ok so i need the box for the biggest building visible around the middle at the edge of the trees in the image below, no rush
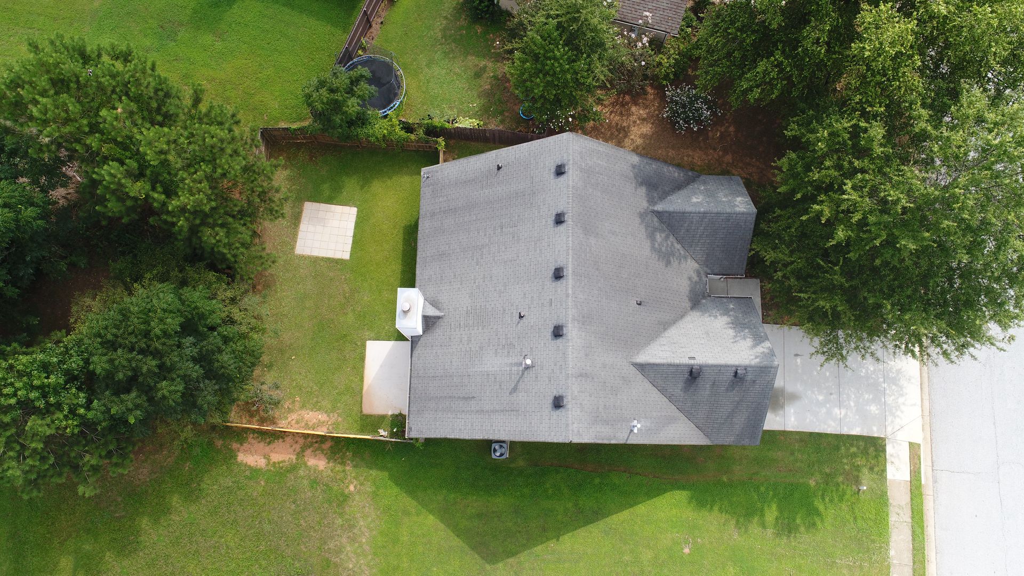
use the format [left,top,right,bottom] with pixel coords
[395,132,779,445]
